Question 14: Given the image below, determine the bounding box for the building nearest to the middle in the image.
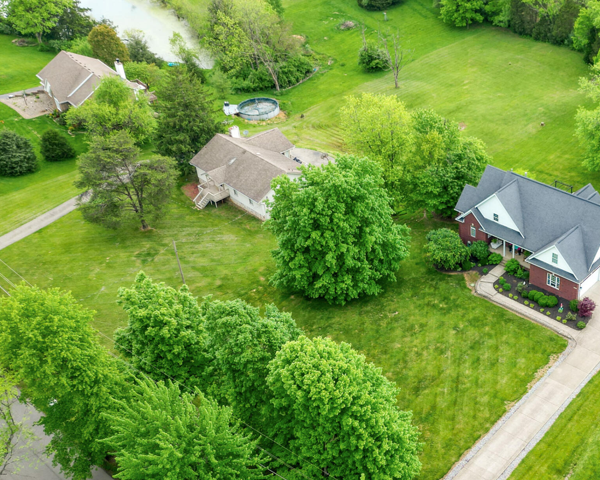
[187,110,308,219]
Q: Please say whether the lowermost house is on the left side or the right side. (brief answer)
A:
right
